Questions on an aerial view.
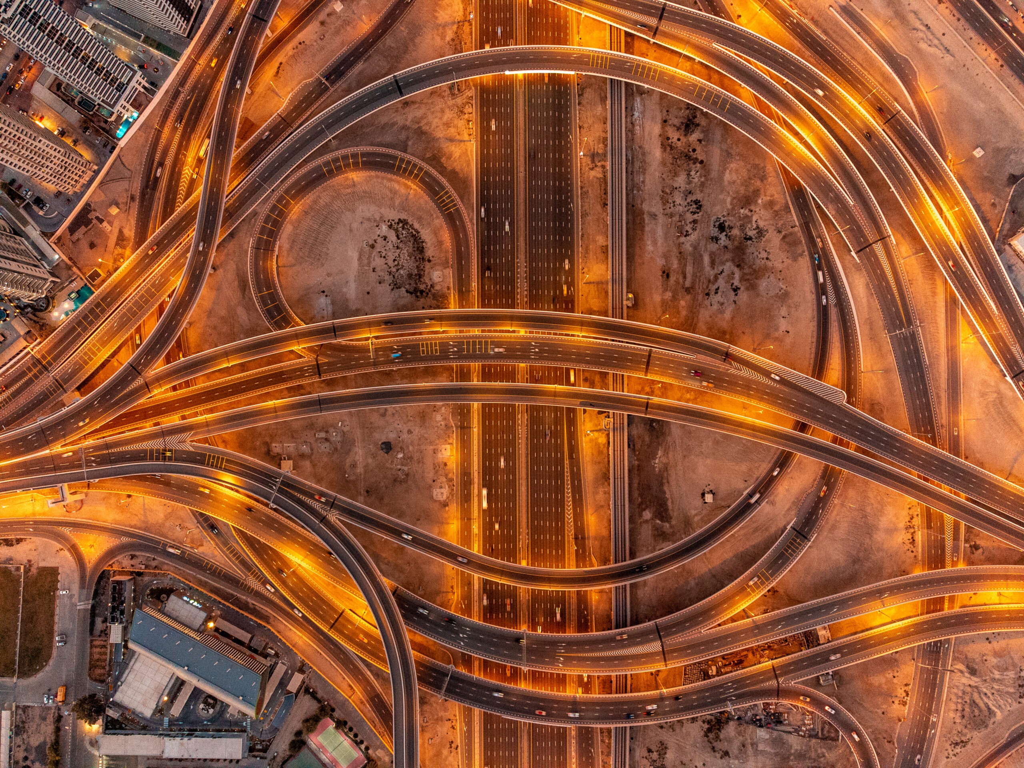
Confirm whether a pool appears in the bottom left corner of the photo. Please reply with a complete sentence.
No, no pool can be made out in the bottom left corner of the photo.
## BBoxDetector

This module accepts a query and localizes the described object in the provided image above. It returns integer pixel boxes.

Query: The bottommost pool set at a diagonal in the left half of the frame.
[68,284,94,311]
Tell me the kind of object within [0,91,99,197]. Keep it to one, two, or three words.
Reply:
building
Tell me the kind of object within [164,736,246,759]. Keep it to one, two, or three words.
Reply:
shed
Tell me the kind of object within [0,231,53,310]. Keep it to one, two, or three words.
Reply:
building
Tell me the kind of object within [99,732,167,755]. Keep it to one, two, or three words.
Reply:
shed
